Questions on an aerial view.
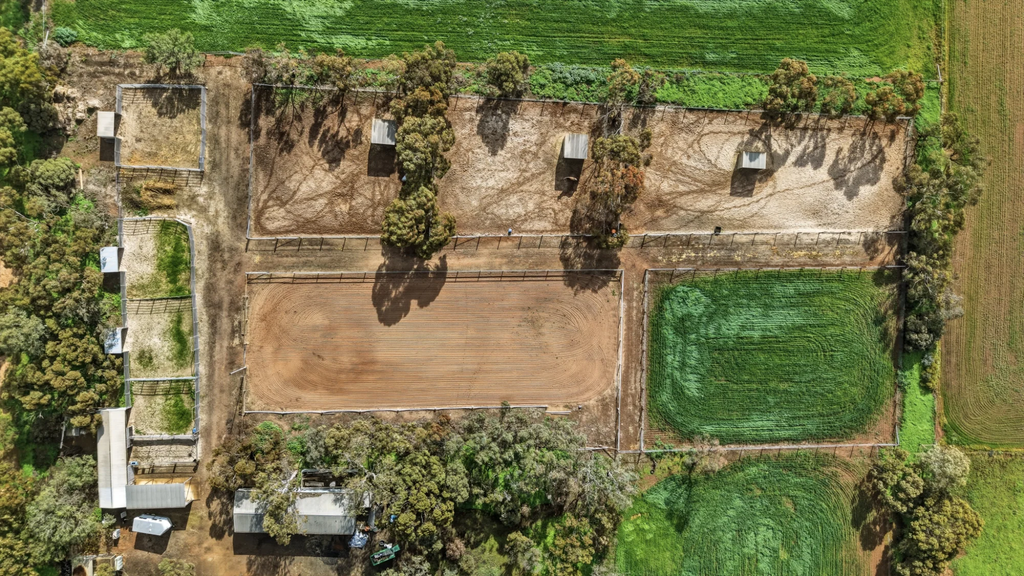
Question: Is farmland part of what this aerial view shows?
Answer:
Yes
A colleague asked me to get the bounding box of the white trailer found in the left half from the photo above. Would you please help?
[134,513,184,535]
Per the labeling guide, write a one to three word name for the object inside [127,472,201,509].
shed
